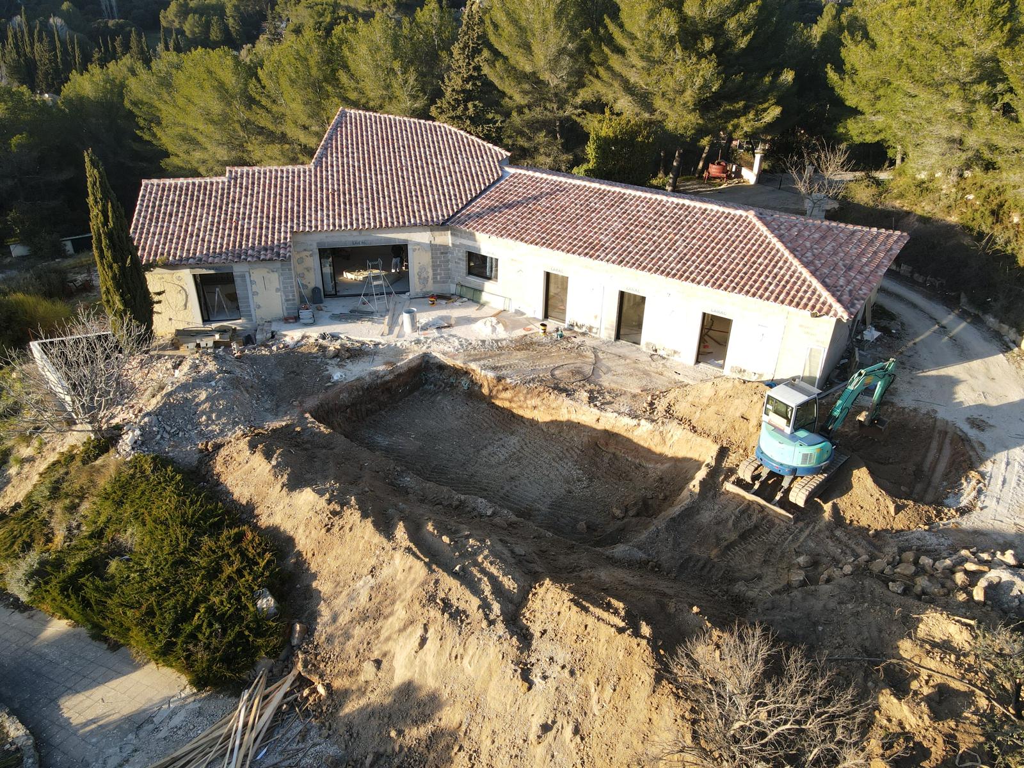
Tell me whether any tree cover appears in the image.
Yes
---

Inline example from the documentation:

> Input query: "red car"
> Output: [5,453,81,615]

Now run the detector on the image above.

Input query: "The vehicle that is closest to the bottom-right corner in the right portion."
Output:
[727,356,904,526]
